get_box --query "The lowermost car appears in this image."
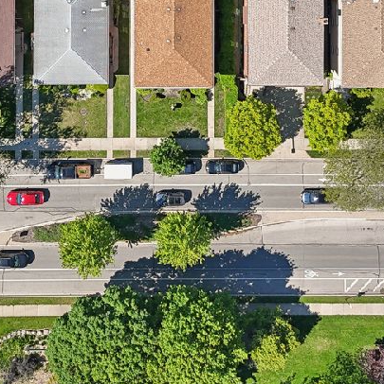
[0,250,30,269]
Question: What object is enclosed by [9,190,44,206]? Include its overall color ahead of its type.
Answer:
red car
